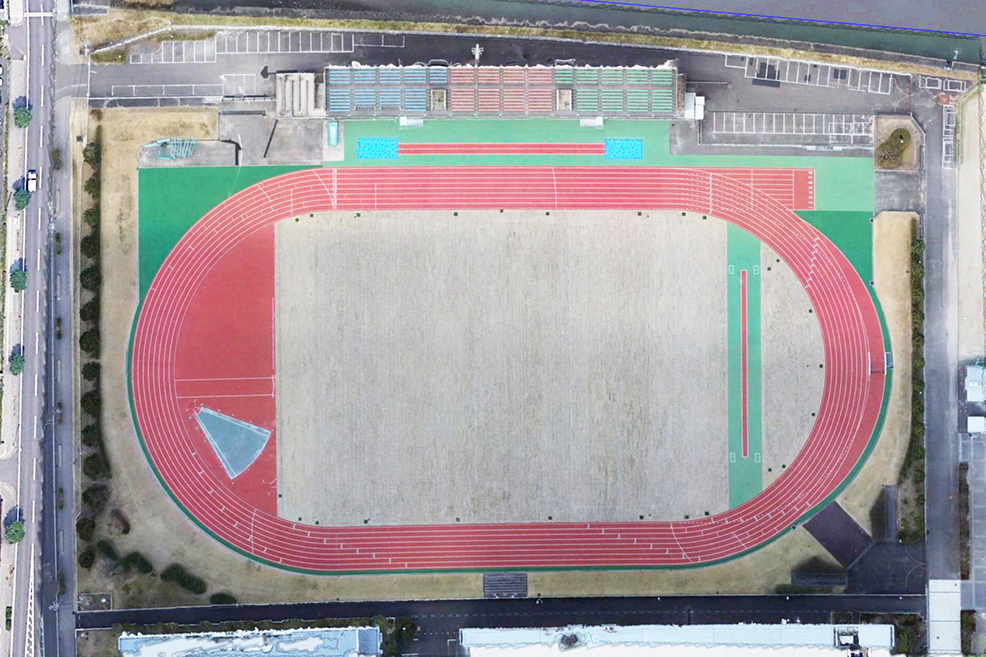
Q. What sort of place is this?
sports ground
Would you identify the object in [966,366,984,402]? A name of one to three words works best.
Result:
building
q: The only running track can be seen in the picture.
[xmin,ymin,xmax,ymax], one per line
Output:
[126,119,894,577]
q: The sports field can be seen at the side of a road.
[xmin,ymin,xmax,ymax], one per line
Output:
[274,212,825,526]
